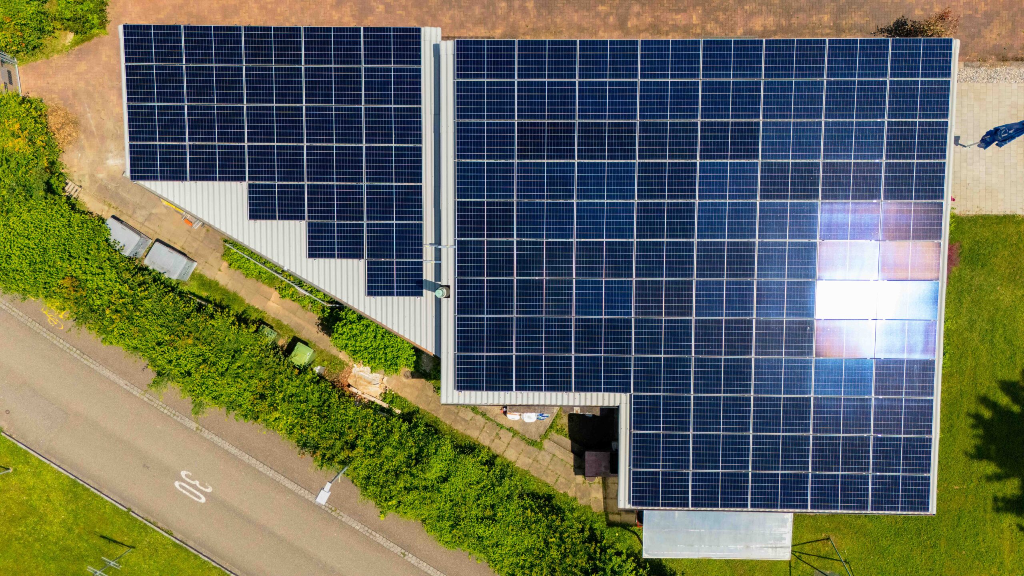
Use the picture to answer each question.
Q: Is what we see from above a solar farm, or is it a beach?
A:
solar farm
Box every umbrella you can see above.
[962,115,1024,149]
